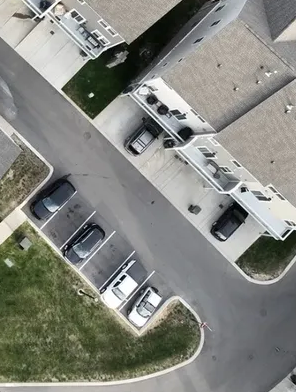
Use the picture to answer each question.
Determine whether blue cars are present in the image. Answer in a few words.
No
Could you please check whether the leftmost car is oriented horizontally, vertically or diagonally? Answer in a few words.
diagonally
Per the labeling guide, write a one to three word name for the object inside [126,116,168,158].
car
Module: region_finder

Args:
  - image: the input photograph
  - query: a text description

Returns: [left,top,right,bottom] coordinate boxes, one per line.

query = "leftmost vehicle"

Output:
[32,177,76,223]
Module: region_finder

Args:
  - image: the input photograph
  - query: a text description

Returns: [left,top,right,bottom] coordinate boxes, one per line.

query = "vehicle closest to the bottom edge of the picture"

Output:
[127,287,169,332]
